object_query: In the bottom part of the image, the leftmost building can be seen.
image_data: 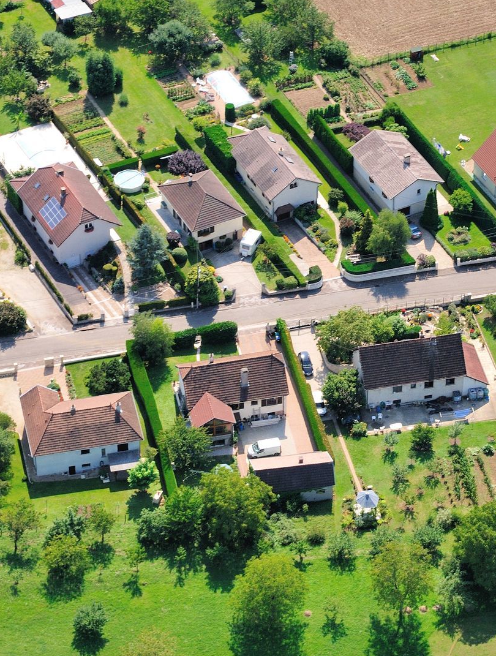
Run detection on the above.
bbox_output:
[18,385,145,474]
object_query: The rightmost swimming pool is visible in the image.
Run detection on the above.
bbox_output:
[114,173,145,198]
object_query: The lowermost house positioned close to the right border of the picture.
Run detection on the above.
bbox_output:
[354,330,482,407]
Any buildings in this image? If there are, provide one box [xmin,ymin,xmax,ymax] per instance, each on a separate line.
[254,450,336,509]
[175,352,293,446]
[471,133,496,203]
[354,330,482,407]
[18,385,145,474]
[9,161,124,268]
[410,46,423,61]
[157,169,246,250]
[347,130,444,215]
[41,0,92,31]
[227,126,323,225]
